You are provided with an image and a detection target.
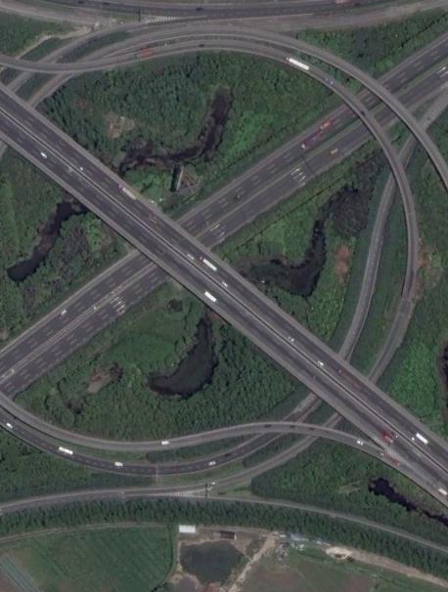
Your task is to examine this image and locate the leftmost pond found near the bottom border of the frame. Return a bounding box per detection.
[181,541,241,583]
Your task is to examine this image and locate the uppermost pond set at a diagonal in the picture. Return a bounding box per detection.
[120,88,232,171]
